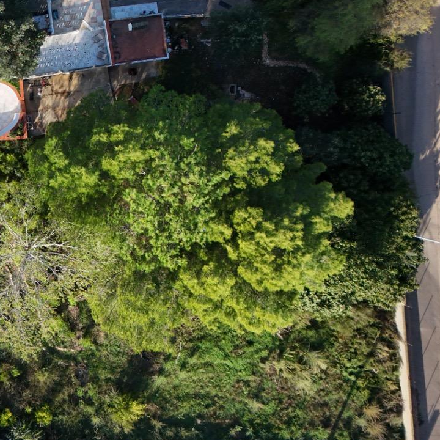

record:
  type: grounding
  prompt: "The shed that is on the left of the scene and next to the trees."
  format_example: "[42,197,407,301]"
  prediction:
[104,13,170,68]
